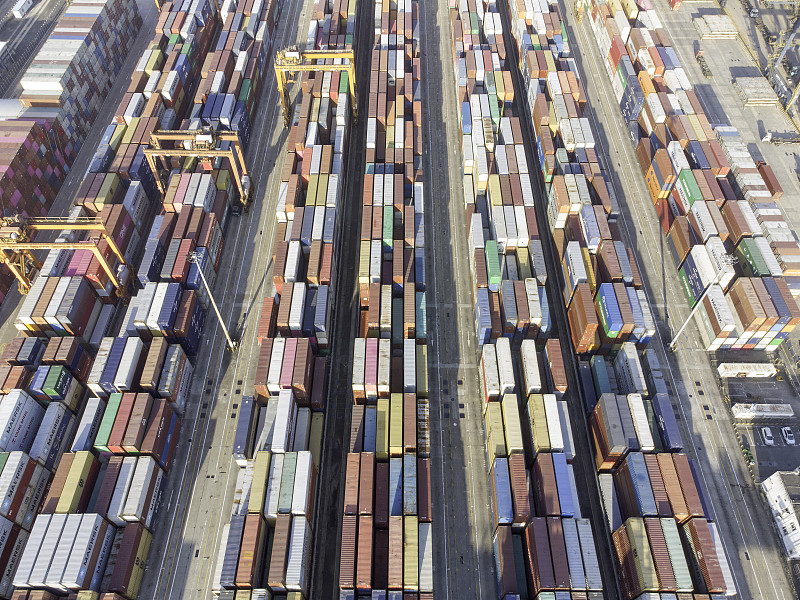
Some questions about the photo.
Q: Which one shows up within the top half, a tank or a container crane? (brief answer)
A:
container crane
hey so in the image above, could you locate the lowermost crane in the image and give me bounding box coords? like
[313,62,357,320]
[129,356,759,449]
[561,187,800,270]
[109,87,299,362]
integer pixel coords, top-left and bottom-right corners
[0,220,137,299]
